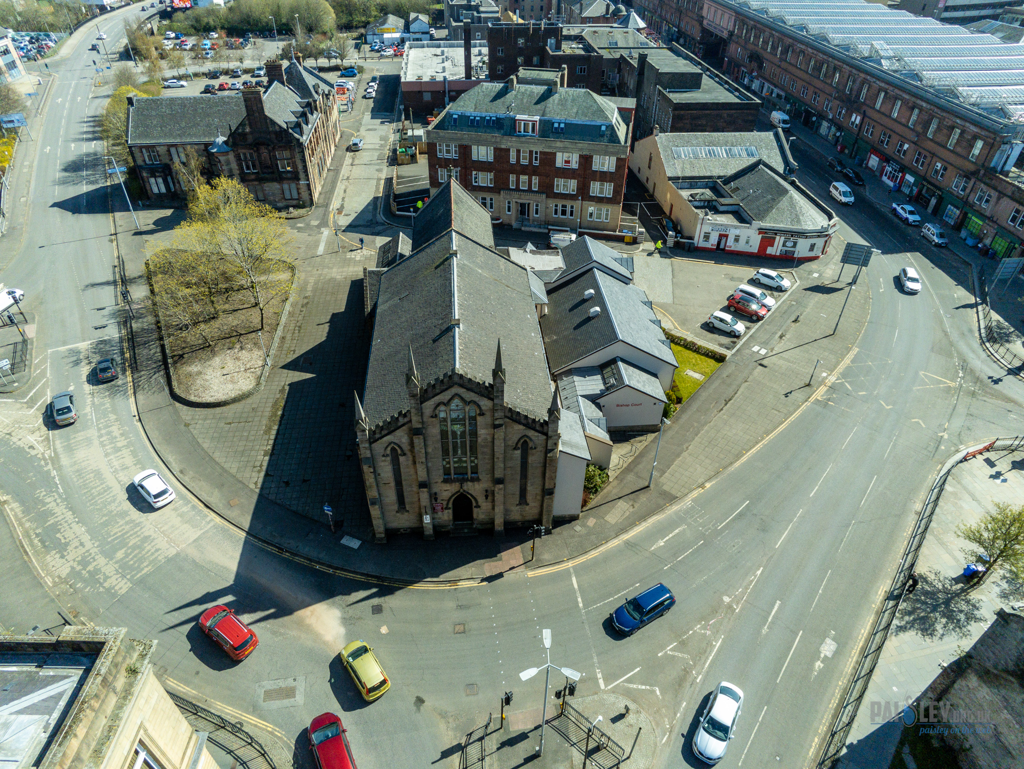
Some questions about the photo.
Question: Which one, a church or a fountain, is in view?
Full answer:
It is a church that can be seen here.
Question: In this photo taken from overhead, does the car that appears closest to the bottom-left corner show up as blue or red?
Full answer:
The car that appears closest to the bottom-left corner is red.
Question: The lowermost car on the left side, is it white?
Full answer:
No, the color of the lowermost car on the left side is red.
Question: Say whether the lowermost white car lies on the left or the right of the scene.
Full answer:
The lowermost white car appears in the right half of the scene.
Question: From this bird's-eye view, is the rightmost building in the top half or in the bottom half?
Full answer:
The rightmost building sits in the bottom half of the picture.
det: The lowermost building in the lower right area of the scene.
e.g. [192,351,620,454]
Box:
[893,592,1024,769]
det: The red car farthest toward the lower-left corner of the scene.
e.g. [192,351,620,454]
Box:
[196,602,261,661]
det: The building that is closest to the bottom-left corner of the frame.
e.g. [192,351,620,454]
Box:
[0,626,232,769]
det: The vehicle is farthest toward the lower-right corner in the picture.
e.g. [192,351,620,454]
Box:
[693,673,750,761]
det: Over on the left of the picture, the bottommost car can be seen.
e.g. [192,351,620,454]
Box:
[302,707,358,769]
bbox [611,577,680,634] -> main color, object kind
blue car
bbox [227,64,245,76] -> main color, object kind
gray vehicle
